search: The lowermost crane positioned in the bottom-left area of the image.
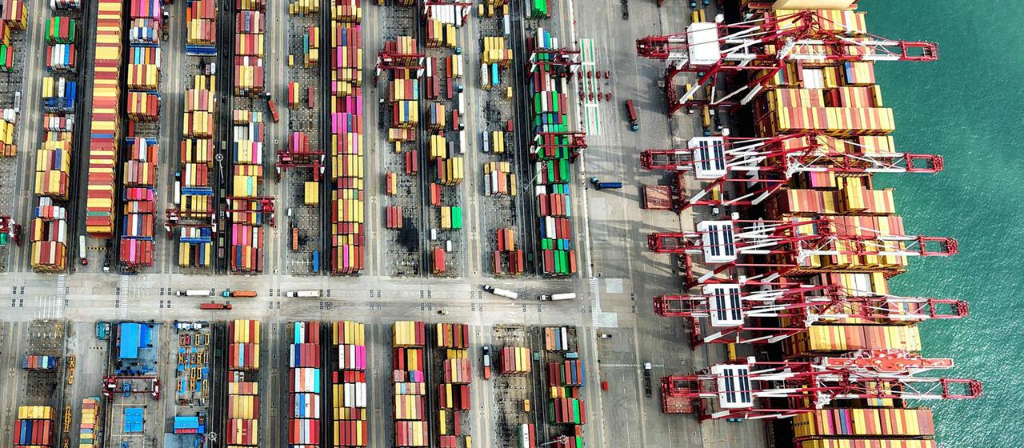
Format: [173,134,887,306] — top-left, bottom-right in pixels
[102,375,161,405]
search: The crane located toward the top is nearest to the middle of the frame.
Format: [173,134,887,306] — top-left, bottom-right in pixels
[528,131,589,168]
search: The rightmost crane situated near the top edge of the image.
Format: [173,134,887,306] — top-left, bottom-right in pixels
[629,12,929,117]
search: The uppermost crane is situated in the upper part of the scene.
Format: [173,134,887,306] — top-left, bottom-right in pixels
[418,0,472,30]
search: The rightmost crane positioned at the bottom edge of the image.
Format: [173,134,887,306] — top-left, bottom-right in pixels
[659,353,987,428]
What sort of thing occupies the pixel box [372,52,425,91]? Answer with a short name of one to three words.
container crane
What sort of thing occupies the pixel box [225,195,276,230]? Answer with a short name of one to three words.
container crane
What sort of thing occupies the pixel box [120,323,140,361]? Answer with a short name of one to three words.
building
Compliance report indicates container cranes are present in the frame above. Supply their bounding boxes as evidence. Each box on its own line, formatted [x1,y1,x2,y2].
[629,12,929,117]
[225,195,276,230]
[372,52,425,91]
[524,48,582,88]
[646,212,962,294]
[418,0,472,30]
[638,127,948,217]
[102,375,161,405]
[528,131,589,168]
[659,353,987,428]
[652,274,972,354]
[164,210,218,244]
[276,149,327,186]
